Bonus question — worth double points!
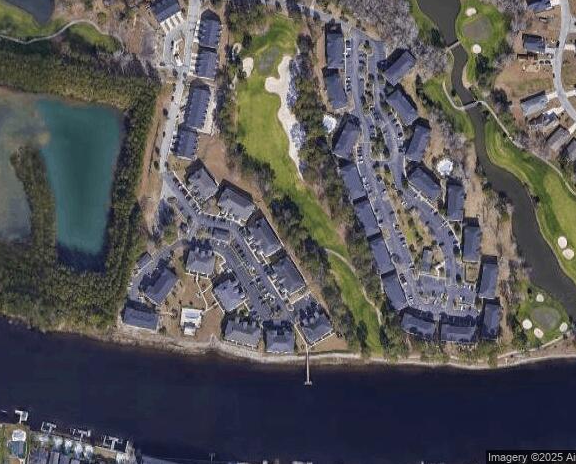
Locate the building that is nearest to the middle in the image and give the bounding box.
[247,216,283,255]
